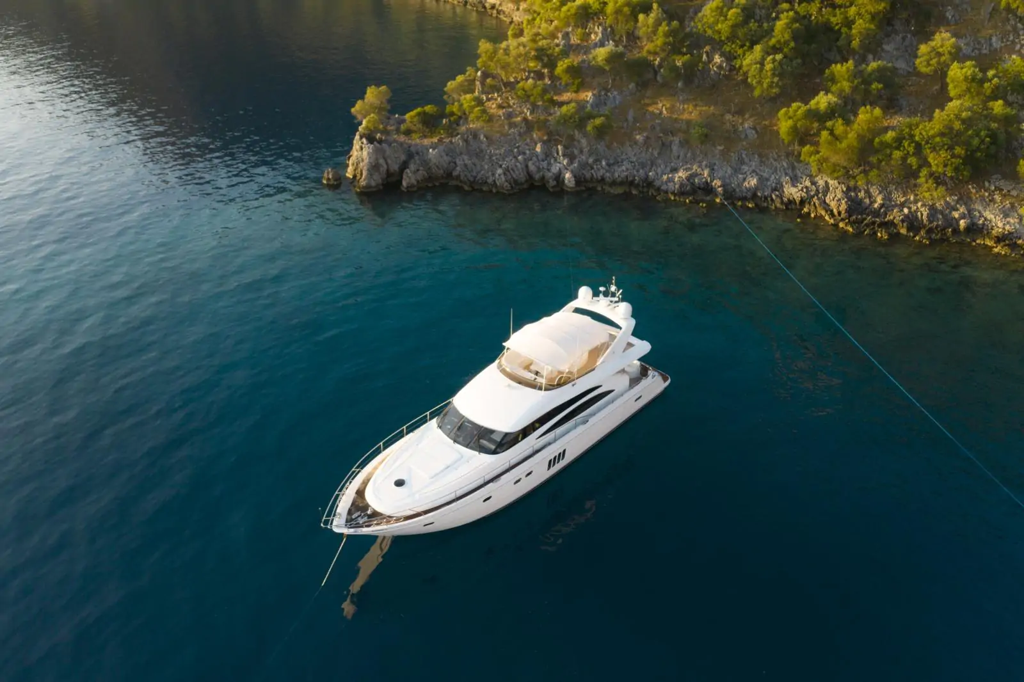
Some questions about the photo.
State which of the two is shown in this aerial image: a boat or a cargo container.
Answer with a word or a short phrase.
boat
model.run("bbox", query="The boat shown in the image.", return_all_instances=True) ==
[321,279,671,544]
